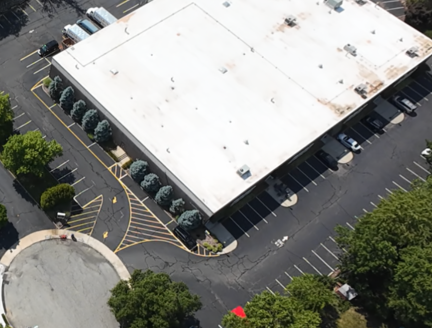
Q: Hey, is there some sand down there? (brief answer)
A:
No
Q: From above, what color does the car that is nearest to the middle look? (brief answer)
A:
black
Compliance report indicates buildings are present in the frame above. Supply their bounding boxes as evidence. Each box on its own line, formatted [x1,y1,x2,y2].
[49,0,432,224]
[338,284,358,301]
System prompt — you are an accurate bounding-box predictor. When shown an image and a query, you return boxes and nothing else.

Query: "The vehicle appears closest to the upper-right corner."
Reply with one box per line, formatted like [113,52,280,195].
[396,94,422,113]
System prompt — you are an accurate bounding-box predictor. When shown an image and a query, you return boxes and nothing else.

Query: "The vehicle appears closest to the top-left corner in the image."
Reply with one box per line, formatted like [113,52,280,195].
[40,38,60,54]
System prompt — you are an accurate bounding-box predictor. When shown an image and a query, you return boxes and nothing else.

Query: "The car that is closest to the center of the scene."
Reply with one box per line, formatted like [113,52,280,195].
[175,226,199,248]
